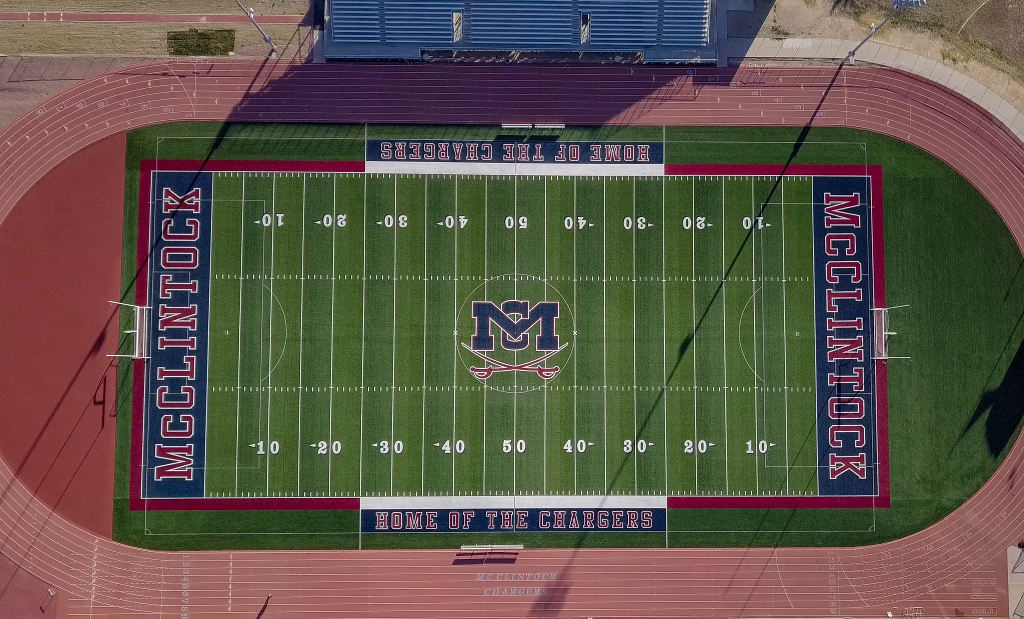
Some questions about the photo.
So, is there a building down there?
No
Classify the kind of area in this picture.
sports ground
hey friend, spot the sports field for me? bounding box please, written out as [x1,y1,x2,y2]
[112,121,1024,550]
